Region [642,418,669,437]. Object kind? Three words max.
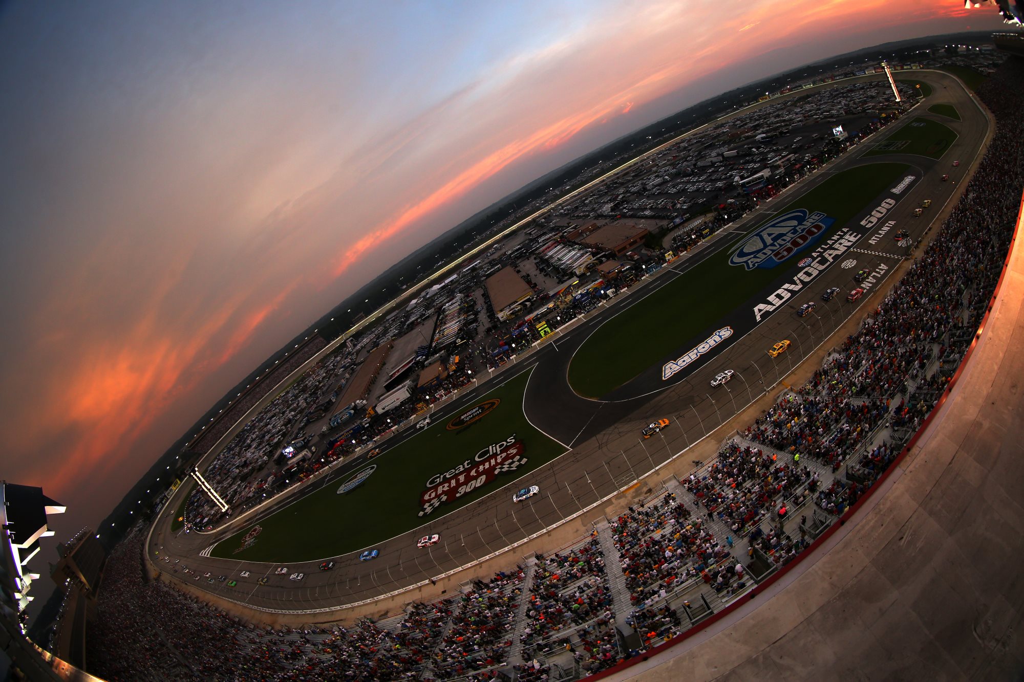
car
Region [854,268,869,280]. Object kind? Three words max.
vehicle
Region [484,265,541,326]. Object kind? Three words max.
building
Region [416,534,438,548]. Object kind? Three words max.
car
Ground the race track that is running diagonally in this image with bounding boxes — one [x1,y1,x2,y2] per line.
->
[145,70,987,610]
